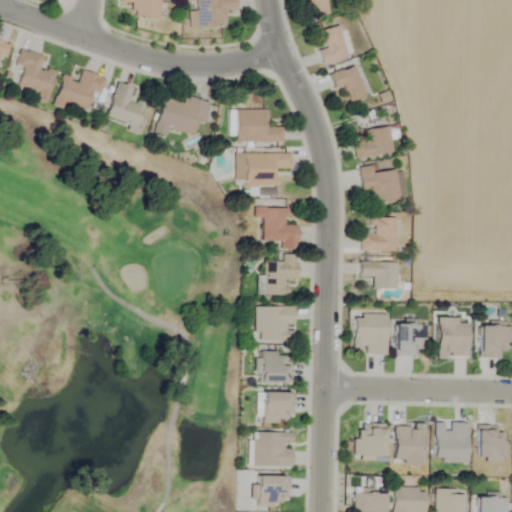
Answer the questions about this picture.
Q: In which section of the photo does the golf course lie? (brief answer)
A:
left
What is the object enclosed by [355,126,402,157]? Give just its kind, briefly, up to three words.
house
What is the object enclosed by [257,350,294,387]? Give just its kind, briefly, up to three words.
house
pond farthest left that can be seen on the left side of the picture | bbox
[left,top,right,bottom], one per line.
[2,331,167,512]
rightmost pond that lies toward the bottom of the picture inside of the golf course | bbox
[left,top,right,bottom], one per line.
[178,419,224,481]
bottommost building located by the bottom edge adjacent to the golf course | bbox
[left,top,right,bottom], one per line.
[252,476,291,507]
